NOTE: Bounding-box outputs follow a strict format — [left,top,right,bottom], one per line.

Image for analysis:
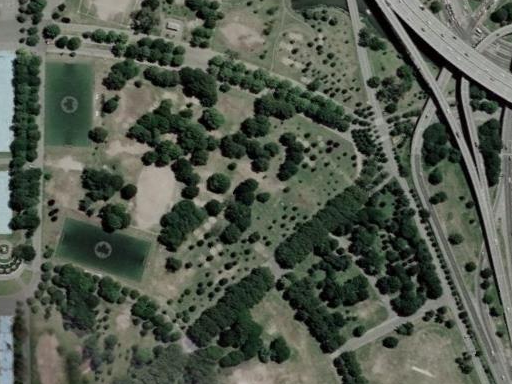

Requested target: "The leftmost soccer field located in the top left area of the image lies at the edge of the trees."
[43,61,92,147]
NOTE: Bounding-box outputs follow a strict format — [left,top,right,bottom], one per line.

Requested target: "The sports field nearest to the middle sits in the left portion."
[134,167,177,229]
